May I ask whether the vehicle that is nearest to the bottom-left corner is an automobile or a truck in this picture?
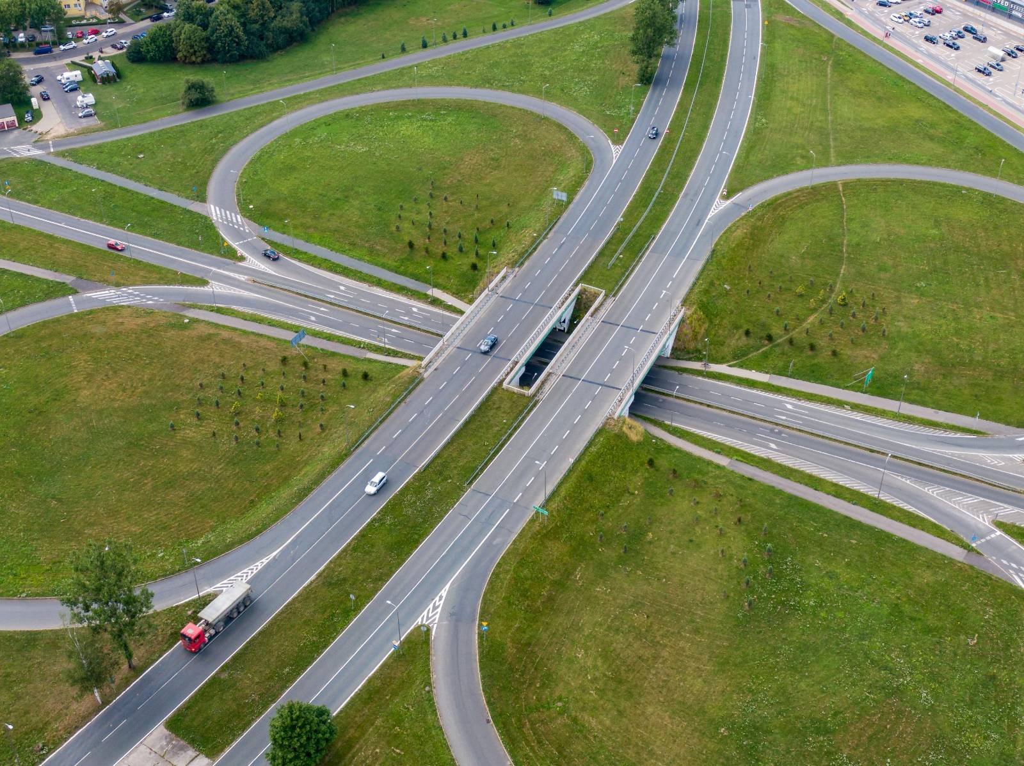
truck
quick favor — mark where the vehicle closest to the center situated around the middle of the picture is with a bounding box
[479,337,498,353]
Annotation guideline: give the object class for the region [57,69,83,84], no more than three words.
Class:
camper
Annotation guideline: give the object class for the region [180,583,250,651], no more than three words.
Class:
truck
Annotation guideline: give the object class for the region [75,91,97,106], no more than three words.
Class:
camper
